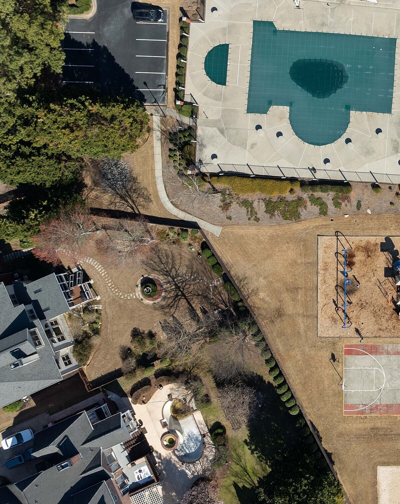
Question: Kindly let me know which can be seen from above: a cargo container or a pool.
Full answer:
Looking from above, you can make out a pool.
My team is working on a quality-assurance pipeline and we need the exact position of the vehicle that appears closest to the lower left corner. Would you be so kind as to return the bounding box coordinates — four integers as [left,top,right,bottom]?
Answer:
[1,449,35,471]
